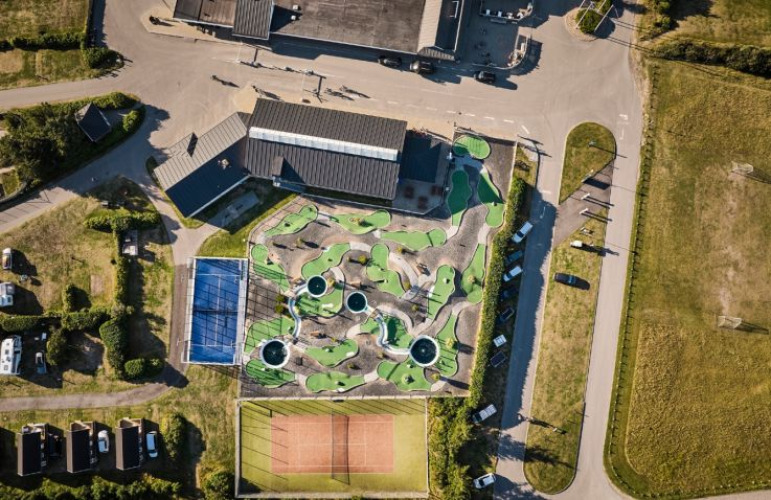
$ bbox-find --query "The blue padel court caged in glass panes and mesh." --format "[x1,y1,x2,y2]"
[176,258,248,368]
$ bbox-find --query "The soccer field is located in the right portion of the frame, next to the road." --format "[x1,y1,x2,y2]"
[629,63,771,480]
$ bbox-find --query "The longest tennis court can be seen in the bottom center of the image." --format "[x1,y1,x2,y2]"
[236,397,434,498]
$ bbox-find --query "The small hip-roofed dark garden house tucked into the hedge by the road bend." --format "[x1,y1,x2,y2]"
[75,102,116,142]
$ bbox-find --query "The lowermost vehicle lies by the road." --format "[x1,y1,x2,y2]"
[474,474,499,491]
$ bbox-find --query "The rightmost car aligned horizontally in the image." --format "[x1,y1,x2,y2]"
[553,272,579,285]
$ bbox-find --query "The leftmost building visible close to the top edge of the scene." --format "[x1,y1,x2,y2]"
[173,0,237,32]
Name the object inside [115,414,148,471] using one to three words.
building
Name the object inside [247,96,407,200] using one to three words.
building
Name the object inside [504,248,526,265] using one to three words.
car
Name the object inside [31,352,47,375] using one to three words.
car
